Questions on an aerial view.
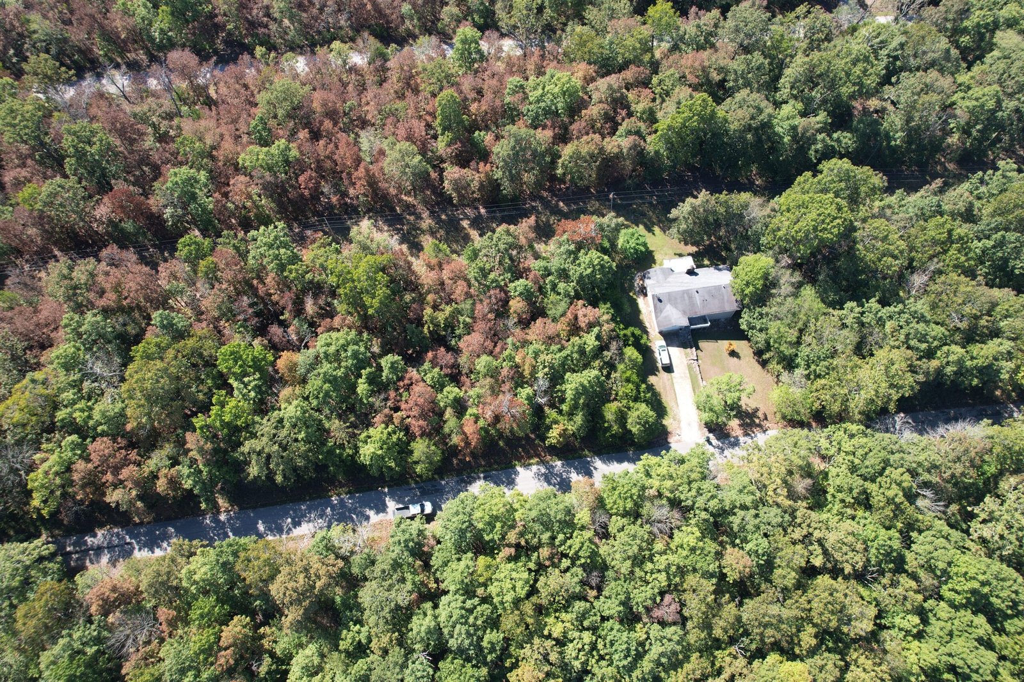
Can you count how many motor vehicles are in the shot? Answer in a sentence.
I count 2 motor vehicles.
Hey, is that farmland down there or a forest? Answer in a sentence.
This looks like a forest.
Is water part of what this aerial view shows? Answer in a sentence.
No, there's no water in this view.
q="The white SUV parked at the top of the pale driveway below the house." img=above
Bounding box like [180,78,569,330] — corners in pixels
[651,341,672,370]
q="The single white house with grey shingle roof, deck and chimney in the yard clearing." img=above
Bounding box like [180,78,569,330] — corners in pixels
[641,255,743,347]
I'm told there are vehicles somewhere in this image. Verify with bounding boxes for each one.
[651,341,672,370]
[392,500,434,521]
